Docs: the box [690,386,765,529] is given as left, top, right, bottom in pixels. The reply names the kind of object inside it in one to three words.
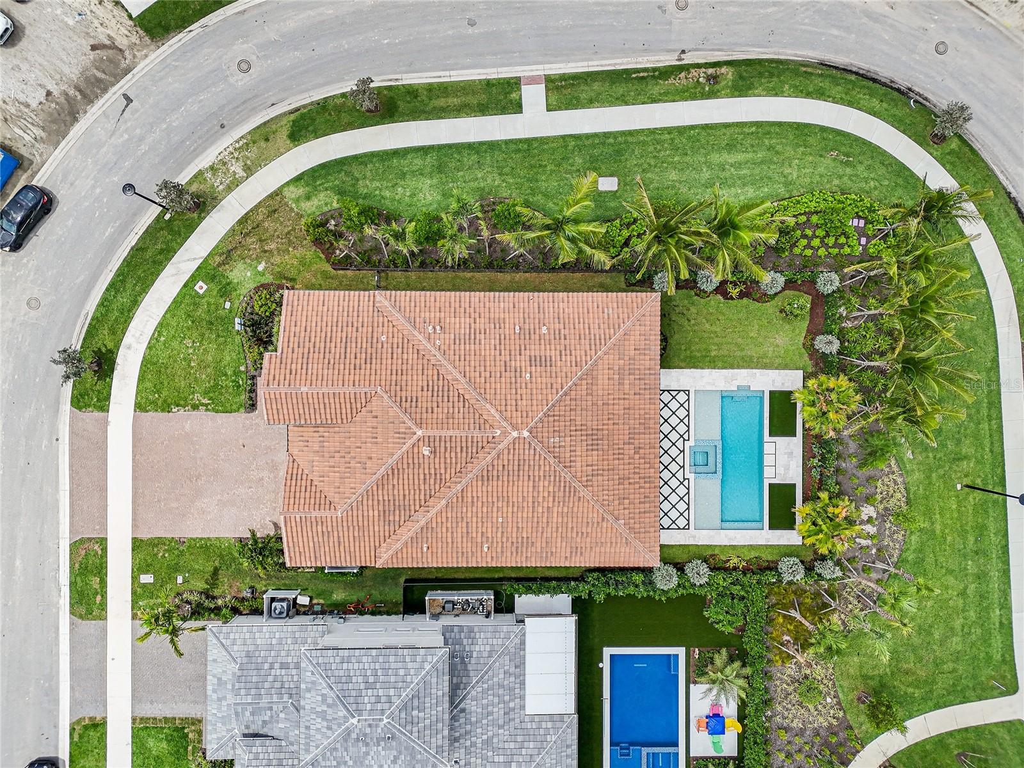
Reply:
swimming pool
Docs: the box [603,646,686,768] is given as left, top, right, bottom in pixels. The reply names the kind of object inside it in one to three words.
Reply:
swimming pool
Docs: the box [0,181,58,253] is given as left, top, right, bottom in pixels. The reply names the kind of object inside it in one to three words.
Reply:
car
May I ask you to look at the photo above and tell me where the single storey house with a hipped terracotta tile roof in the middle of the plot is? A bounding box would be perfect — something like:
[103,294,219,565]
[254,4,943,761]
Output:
[258,290,662,570]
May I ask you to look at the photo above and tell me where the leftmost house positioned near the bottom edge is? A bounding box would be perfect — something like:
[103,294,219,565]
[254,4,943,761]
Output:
[204,613,580,768]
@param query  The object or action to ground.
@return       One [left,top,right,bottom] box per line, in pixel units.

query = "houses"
[258,290,662,570]
[204,613,580,768]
